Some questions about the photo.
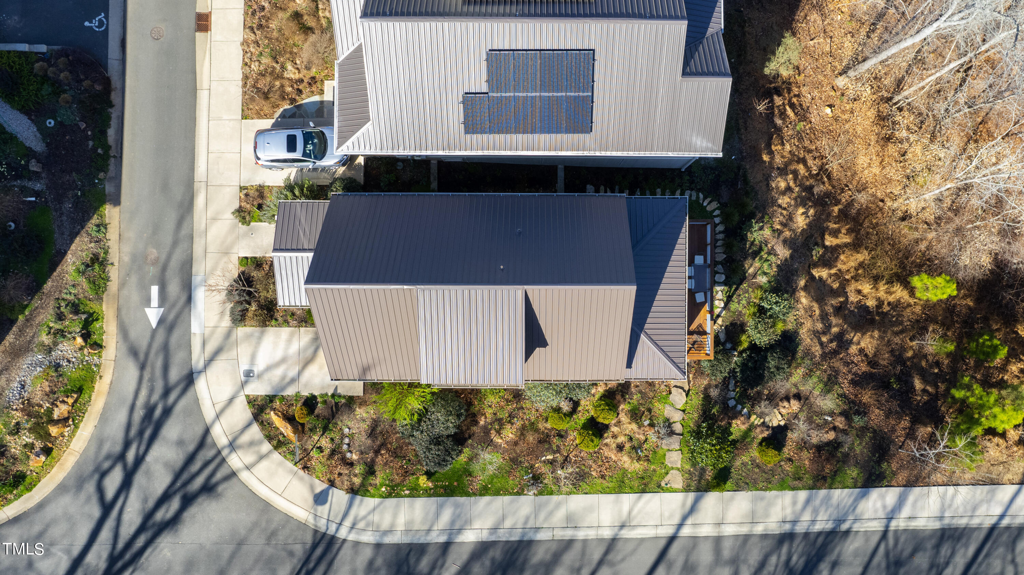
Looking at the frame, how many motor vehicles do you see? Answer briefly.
1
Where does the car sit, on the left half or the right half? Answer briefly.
left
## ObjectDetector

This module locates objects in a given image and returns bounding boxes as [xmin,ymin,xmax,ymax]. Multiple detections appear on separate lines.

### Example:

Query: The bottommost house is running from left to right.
[271,192,687,389]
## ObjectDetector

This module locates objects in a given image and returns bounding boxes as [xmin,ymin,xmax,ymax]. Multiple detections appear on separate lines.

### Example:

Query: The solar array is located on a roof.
[459,50,596,134]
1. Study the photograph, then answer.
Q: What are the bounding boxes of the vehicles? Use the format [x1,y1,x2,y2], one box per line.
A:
[252,120,352,169]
